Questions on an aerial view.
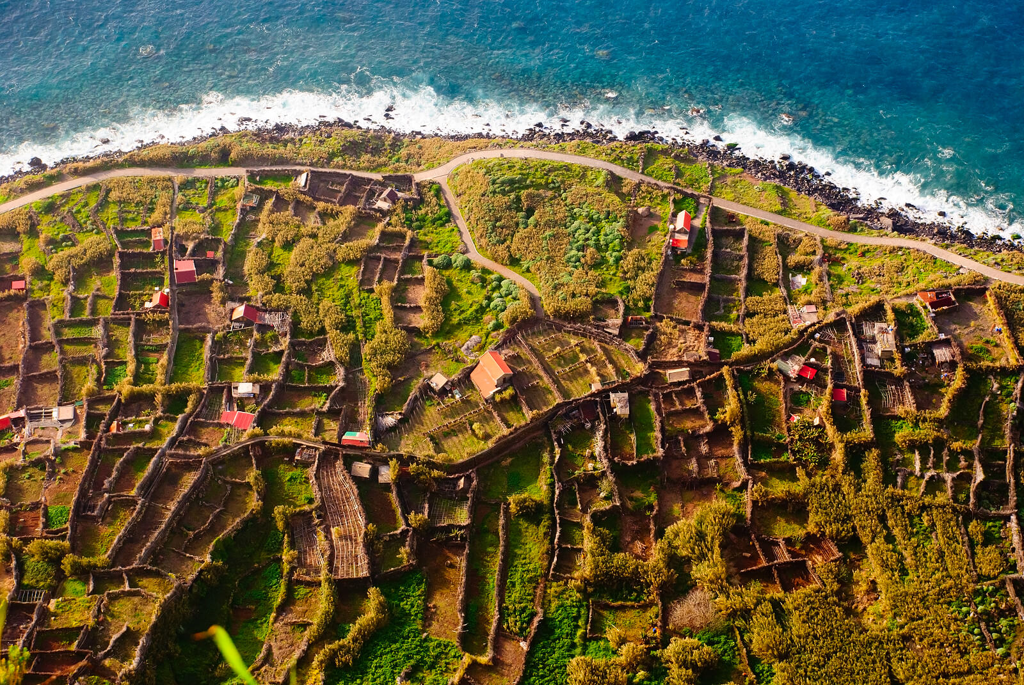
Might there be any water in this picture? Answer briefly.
Yes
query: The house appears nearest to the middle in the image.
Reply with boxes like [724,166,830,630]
[471,350,512,401]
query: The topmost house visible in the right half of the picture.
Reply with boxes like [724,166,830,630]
[671,209,691,253]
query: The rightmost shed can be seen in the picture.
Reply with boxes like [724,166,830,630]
[917,290,956,316]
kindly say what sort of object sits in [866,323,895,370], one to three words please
house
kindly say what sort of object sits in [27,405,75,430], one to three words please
house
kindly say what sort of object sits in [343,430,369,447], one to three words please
shed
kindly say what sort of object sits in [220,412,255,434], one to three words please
shed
